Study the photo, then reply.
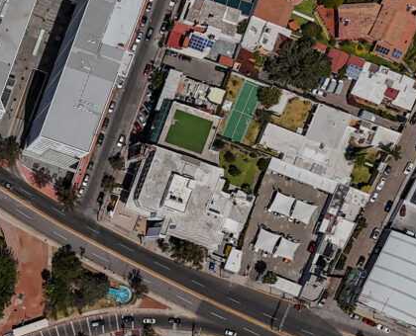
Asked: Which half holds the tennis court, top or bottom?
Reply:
top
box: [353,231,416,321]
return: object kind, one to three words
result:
building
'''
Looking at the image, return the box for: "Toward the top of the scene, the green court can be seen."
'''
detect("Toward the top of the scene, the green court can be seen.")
[223,78,261,143]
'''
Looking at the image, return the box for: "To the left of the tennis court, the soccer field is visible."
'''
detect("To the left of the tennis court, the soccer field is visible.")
[165,110,214,154]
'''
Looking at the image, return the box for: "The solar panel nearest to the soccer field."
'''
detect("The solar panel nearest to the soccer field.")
[189,34,215,52]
